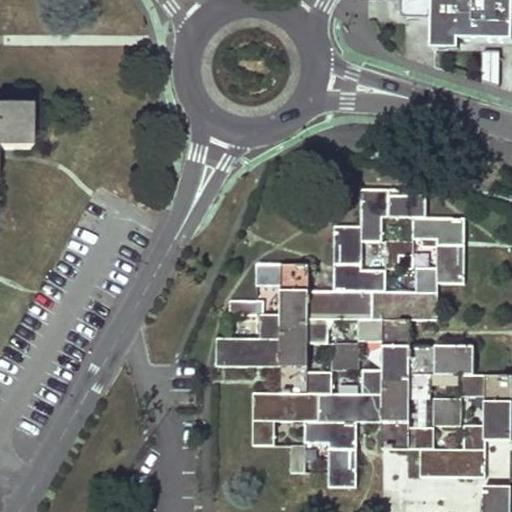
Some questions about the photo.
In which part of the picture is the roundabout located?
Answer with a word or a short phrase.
top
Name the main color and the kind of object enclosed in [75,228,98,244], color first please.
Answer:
white vehicle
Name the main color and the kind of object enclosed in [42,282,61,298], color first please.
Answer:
white car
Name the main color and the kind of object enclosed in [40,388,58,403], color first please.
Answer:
white car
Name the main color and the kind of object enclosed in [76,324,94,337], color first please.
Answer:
white vehicle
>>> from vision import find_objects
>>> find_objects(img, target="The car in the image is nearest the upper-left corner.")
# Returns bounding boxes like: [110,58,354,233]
[86,202,104,216]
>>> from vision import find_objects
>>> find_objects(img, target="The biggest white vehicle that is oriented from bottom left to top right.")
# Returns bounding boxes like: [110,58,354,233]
[141,454,158,474]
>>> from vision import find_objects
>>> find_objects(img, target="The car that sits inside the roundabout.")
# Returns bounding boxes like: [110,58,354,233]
[280,109,300,121]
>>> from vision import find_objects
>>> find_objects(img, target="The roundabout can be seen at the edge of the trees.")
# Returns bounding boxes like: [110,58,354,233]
[172,0,331,146]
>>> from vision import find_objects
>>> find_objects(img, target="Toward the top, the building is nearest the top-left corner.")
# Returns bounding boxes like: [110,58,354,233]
[0,99,36,152]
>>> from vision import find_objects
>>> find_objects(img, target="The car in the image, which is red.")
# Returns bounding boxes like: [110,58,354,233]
[34,294,52,308]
